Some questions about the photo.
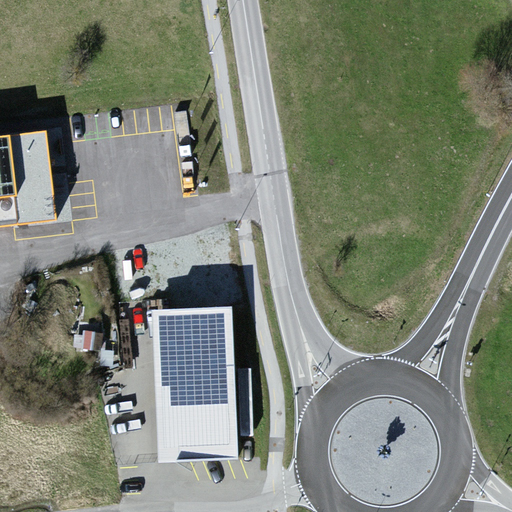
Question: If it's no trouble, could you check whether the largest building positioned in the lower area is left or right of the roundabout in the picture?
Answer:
to the left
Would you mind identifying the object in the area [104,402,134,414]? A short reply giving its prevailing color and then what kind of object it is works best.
white vehicle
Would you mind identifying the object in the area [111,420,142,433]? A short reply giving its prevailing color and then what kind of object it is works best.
white vehicle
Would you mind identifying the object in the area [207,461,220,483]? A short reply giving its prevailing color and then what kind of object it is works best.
gray vehicle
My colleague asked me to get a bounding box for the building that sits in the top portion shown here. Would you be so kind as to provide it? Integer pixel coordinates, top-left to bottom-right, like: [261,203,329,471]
[0,130,56,226]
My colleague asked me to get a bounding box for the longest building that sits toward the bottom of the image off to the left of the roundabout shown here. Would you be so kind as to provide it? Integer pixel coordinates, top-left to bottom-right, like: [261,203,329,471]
[152,306,238,464]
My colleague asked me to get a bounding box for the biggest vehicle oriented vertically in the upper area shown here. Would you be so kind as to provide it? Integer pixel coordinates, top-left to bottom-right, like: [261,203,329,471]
[174,110,193,158]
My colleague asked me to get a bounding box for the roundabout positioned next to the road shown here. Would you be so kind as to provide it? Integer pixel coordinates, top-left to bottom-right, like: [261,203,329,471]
[295,356,475,512]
